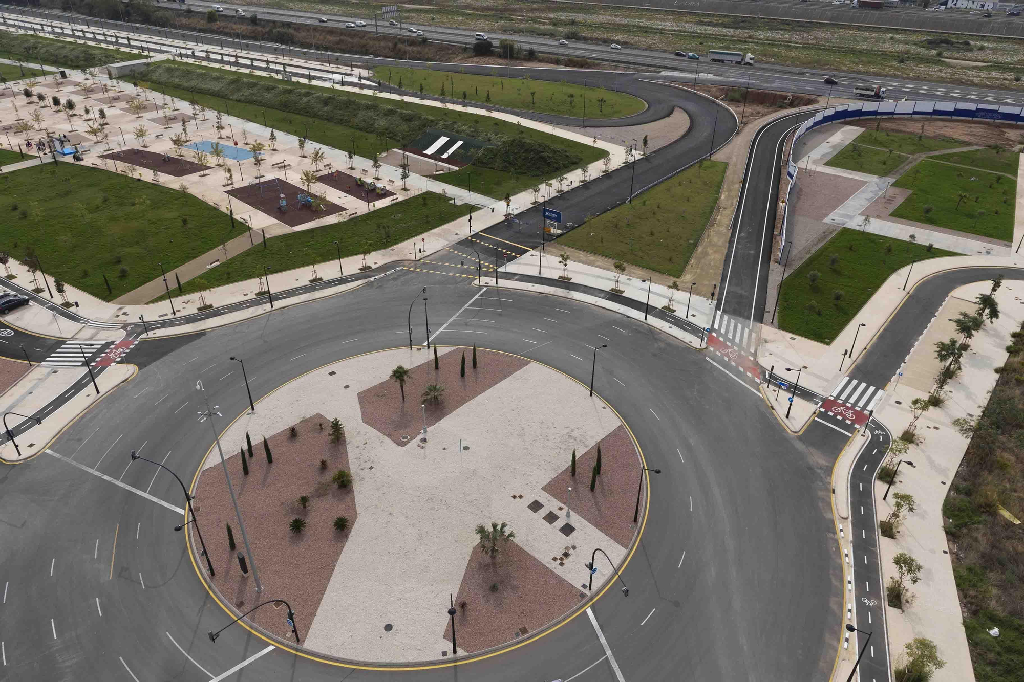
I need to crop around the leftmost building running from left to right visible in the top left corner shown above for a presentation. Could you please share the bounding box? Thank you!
[105,60,147,76]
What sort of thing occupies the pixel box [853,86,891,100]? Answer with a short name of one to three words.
vehicle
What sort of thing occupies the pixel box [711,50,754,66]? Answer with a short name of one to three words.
vehicle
